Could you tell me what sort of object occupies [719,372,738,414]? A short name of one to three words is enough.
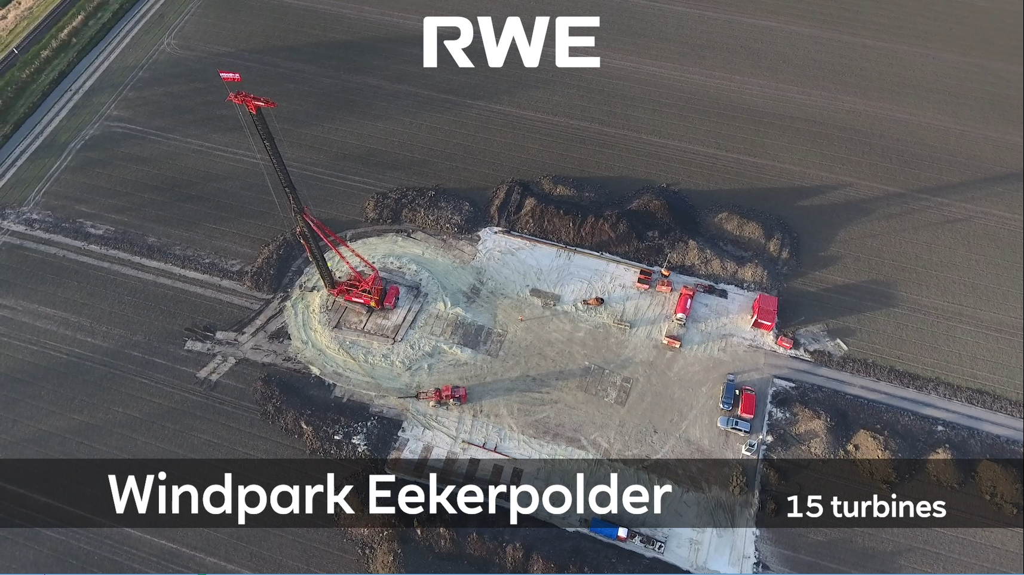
car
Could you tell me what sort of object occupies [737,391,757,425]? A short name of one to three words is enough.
vehicle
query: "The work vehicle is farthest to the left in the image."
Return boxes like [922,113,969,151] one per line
[397,387,469,409]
